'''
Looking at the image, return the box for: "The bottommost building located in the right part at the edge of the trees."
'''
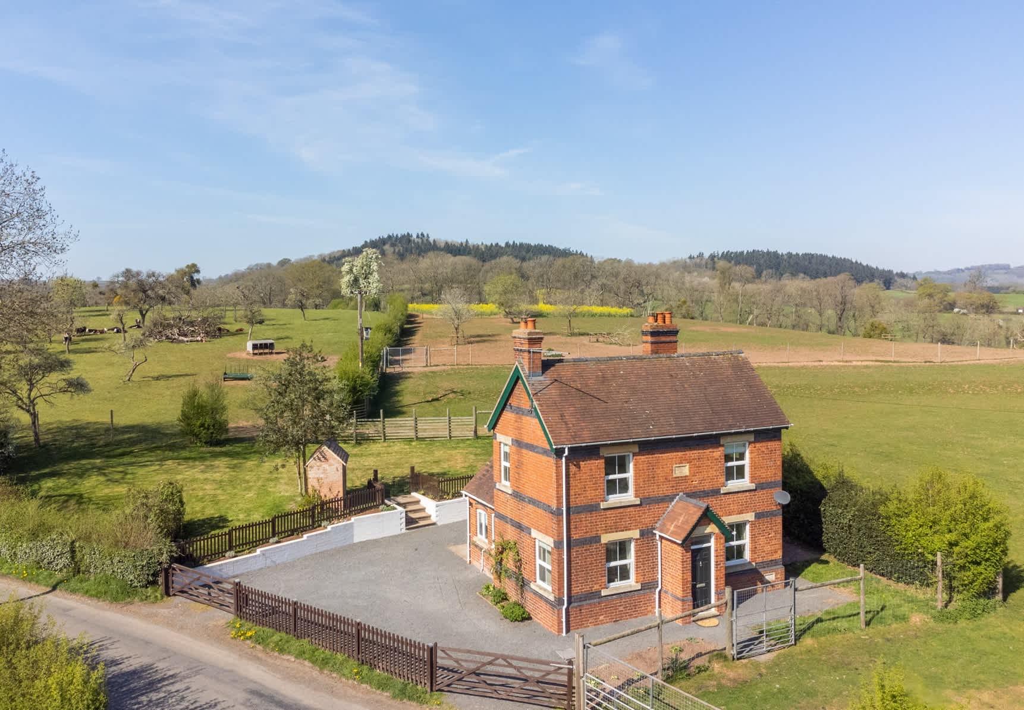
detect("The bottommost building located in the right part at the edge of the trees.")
[459,312,794,634]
